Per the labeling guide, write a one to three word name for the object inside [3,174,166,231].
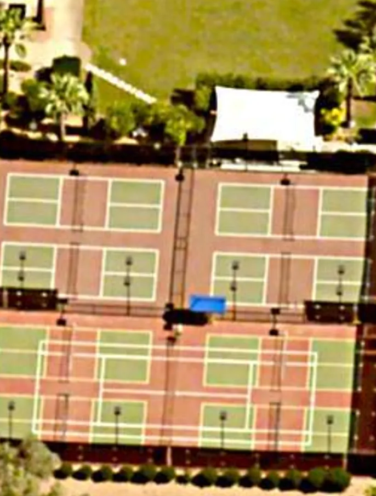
sports court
